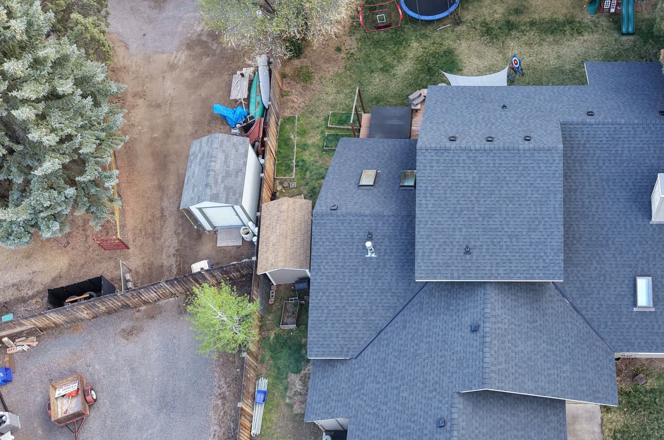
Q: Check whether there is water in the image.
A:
No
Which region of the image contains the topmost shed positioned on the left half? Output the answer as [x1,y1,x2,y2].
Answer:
[184,133,261,231]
